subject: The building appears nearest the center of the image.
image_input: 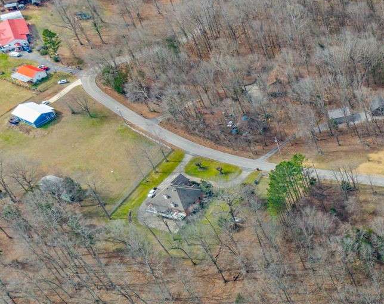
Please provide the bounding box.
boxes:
[145,170,215,222]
